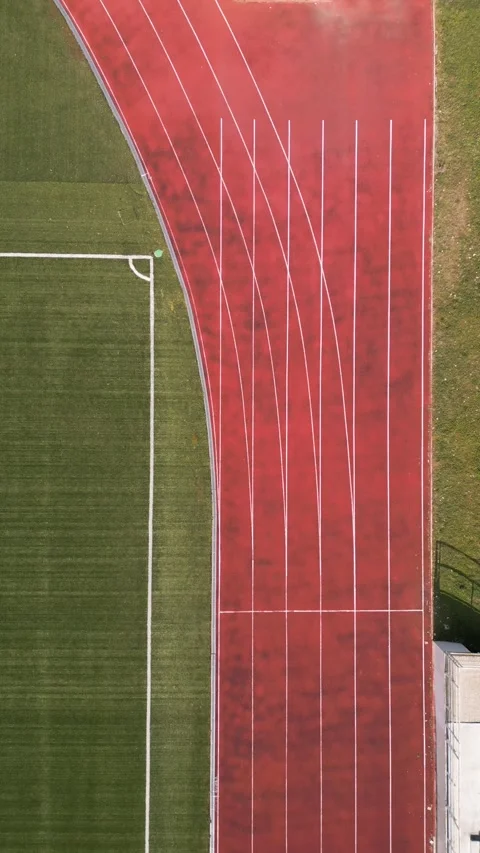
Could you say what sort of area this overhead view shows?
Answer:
sports ground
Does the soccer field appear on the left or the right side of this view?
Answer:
left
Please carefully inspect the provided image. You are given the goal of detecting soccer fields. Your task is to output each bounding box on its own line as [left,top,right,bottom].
[0,0,212,853]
